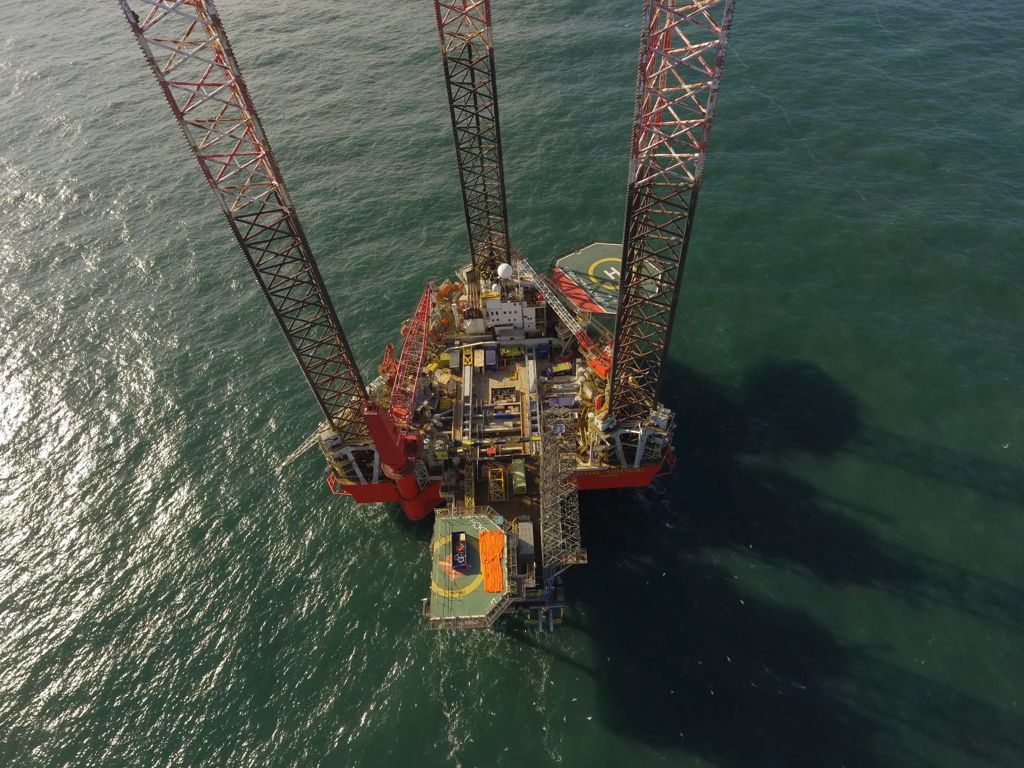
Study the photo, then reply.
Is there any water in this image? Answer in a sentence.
Yes, water shows up in the scene.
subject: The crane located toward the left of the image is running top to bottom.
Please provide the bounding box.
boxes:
[368,283,437,507]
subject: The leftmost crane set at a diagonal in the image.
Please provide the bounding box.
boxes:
[278,338,410,472]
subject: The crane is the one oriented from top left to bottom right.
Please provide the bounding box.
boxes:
[502,239,627,384]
